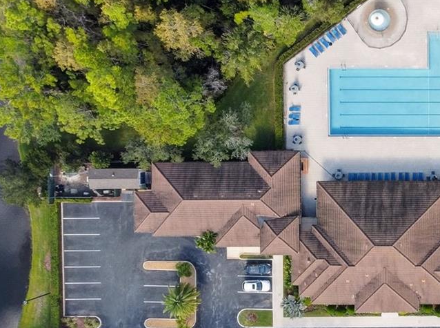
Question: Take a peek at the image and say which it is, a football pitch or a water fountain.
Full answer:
The image shows a water fountain.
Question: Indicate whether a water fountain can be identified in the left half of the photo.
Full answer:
No, looking in the left half of the photo, there is no water fountain.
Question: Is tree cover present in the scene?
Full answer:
Yes, there is tree cover in the image.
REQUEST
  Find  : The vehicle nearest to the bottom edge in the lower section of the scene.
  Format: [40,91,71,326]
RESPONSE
[243,279,271,293]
